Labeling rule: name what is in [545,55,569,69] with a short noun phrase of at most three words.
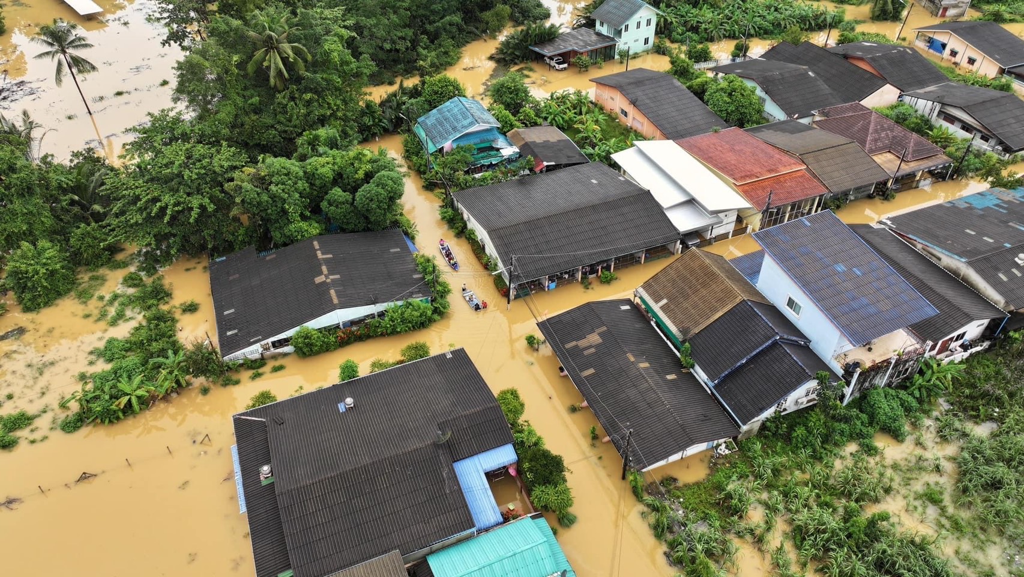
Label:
vehicle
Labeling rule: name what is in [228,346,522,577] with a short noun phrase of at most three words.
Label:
house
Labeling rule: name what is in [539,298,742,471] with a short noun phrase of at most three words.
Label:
house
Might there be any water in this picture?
Yes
